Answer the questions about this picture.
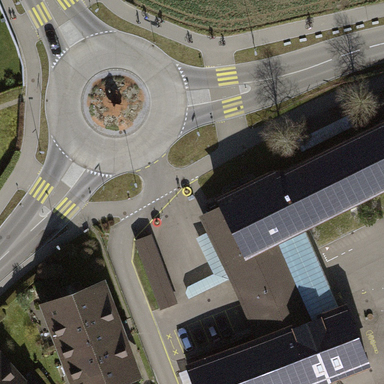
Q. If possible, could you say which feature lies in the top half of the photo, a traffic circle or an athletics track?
traffic circle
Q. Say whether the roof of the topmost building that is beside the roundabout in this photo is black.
Yes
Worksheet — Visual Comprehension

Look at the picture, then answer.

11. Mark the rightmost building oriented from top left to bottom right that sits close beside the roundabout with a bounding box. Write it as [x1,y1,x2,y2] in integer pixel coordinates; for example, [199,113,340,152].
[199,210,310,330]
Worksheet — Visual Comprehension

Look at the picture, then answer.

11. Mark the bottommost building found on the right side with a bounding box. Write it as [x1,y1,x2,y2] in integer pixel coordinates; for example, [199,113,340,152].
[176,304,370,384]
